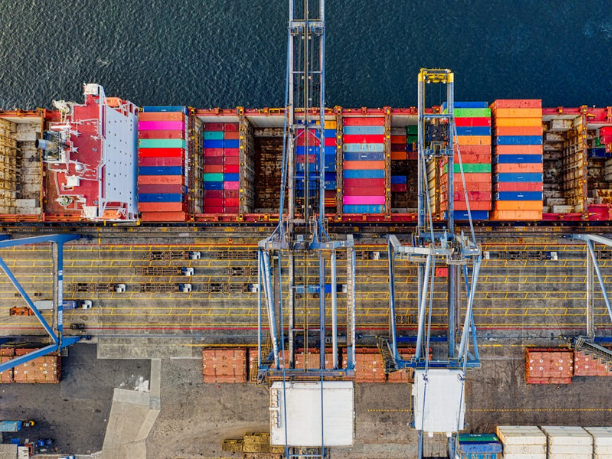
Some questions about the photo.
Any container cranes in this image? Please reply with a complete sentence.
Yes, the photo shows a container crane.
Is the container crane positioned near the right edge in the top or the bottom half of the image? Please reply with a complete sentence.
It is in the bottom half that the container crane positioned near the right edge appears.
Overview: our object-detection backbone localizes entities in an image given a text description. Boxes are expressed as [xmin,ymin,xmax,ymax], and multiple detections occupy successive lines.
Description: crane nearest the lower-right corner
[551,232,612,369]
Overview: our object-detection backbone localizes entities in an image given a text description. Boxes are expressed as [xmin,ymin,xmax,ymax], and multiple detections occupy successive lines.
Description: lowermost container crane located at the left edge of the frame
[0,231,100,377]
